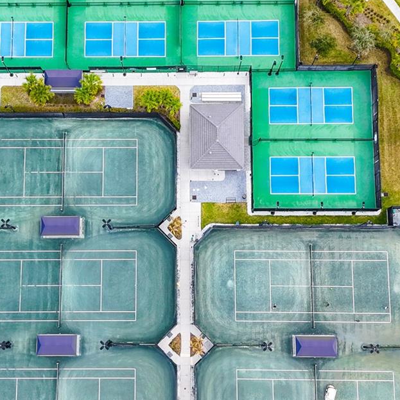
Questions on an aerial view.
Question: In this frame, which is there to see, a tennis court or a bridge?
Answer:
tennis court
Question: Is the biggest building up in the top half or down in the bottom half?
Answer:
top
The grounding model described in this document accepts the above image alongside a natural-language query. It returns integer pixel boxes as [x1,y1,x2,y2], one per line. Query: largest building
[189,102,246,170]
